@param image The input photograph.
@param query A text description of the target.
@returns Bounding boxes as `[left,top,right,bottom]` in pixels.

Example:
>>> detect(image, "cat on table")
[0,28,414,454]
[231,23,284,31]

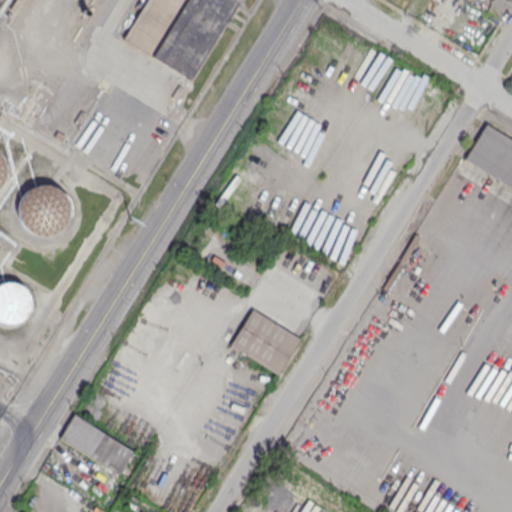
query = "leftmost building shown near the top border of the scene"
[128,0,188,56]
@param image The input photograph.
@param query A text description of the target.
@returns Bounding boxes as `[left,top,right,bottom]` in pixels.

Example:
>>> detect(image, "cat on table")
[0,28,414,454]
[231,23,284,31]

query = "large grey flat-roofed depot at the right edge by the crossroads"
[463,122,512,188]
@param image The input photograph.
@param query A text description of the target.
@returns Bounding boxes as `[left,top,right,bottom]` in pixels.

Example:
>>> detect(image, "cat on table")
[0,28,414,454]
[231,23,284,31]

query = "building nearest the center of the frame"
[229,308,303,377]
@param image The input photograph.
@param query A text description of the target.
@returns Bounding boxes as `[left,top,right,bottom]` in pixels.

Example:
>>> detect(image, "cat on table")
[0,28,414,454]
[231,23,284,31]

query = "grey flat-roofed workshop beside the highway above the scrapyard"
[61,414,106,458]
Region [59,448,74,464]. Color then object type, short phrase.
white vehicle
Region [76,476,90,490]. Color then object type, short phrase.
white vehicle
